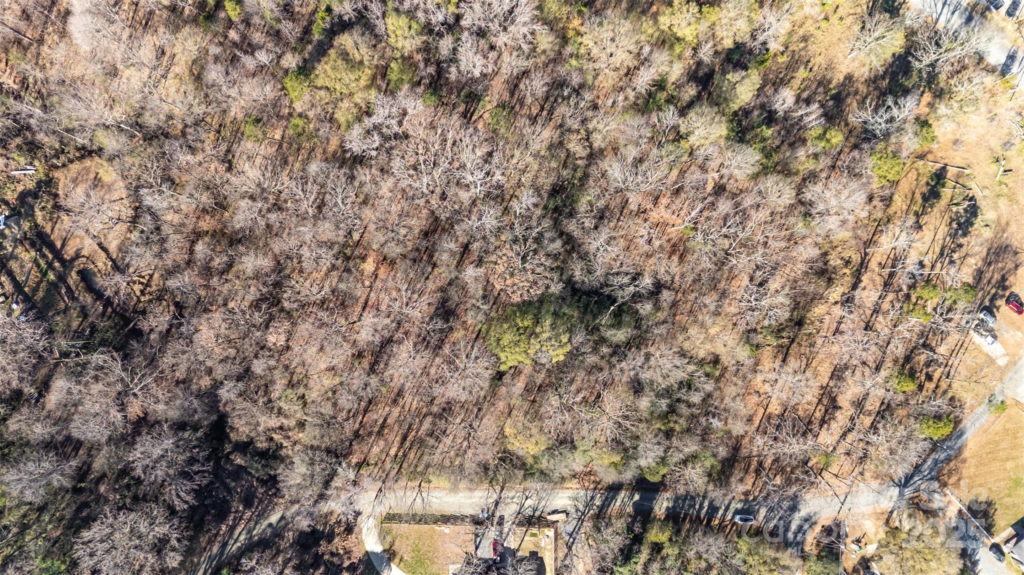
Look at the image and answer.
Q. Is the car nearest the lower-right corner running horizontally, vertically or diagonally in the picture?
diagonally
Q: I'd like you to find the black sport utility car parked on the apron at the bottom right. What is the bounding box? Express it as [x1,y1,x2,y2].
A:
[991,545,1011,565]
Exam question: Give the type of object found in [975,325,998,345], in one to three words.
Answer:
vehicle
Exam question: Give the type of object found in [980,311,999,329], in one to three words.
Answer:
car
